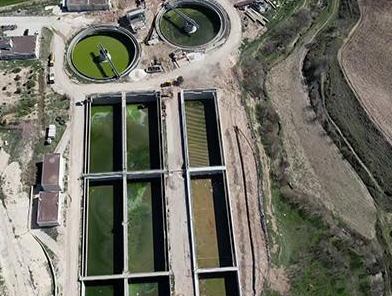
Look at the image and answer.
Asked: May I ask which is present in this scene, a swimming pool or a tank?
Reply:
tank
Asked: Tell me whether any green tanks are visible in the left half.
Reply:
Yes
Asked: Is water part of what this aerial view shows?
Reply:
Yes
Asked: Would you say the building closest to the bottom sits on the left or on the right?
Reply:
left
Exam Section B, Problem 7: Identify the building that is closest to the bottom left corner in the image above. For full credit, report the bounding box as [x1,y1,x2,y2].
[37,192,62,228]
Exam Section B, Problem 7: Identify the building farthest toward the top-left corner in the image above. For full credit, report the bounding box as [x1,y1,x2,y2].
[0,34,40,62]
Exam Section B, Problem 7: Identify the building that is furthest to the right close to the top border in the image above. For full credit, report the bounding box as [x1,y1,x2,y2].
[125,10,149,35]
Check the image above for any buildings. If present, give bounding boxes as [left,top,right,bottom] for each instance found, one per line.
[125,10,149,35]
[62,0,111,12]
[41,154,63,191]
[37,192,62,228]
[0,34,40,62]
